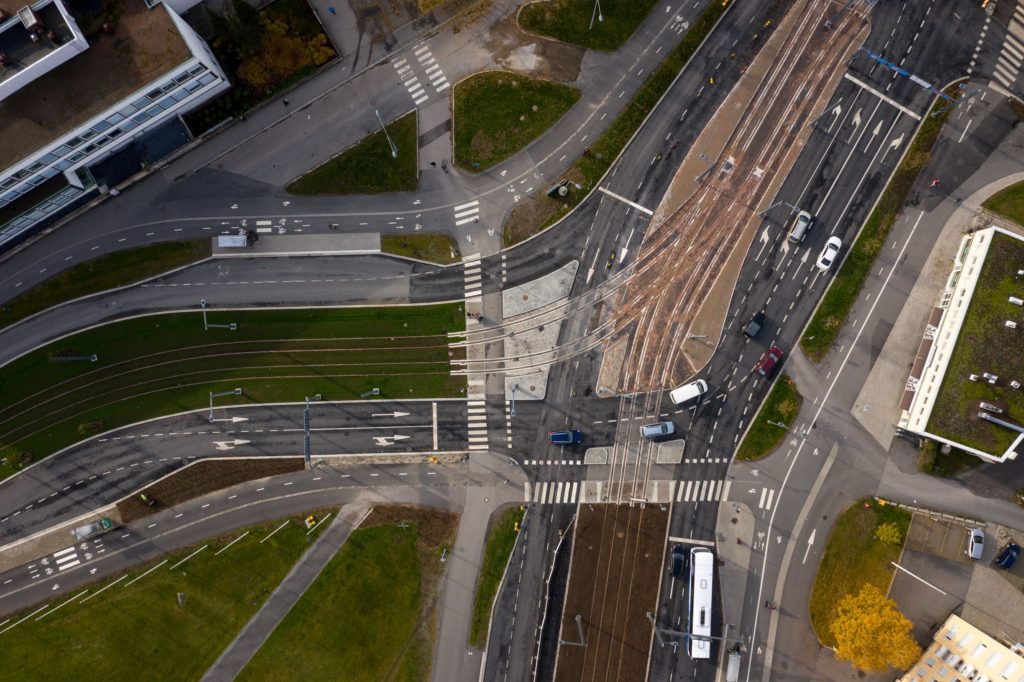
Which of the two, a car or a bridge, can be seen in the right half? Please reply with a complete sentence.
What appears in the right half is a car.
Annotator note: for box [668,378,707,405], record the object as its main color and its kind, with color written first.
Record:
white vehicle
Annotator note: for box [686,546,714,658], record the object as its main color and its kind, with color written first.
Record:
white bus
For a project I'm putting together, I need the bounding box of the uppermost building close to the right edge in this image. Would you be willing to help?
[897,227,1024,462]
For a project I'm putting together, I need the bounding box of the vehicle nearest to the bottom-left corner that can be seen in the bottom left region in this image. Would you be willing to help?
[71,517,112,541]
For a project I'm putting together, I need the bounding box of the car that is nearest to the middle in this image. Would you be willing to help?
[549,429,581,446]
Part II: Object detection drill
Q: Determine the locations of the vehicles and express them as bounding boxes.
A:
[686,546,714,658]
[787,211,811,246]
[549,429,581,446]
[739,310,767,339]
[755,344,782,377]
[815,235,843,271]
[966,527,987,560]
[668,378,707,405]
[640,421,674,437]
[669,543,686,577]
[71,517,112,541]
[993,541,1022,571]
